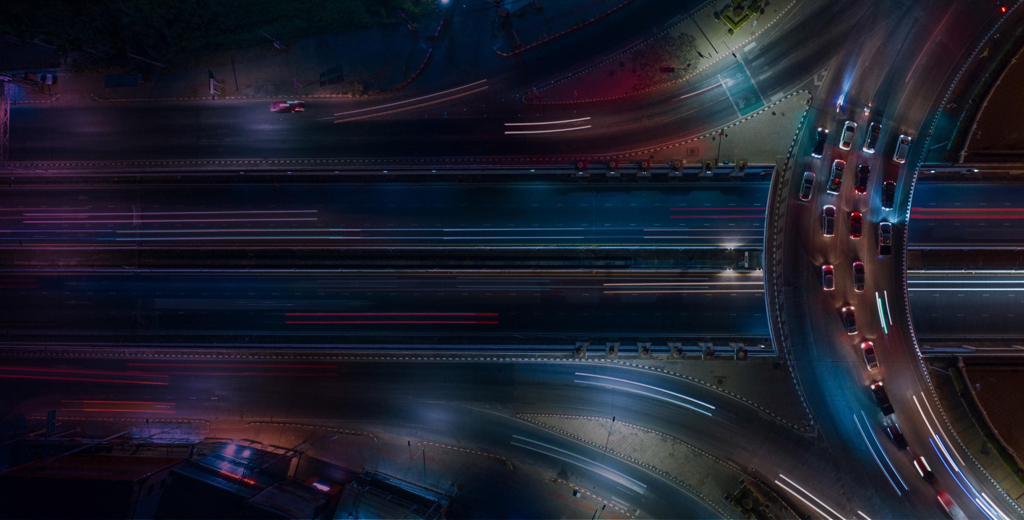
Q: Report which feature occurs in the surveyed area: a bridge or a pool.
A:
bridge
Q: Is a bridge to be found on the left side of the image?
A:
No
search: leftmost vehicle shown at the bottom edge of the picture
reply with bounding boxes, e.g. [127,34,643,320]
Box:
[621,472,650,495]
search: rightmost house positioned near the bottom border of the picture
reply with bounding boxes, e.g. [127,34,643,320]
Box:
[337,464,454,520]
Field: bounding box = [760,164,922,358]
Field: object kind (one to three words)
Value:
bridge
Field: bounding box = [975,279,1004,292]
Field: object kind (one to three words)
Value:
vehicle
